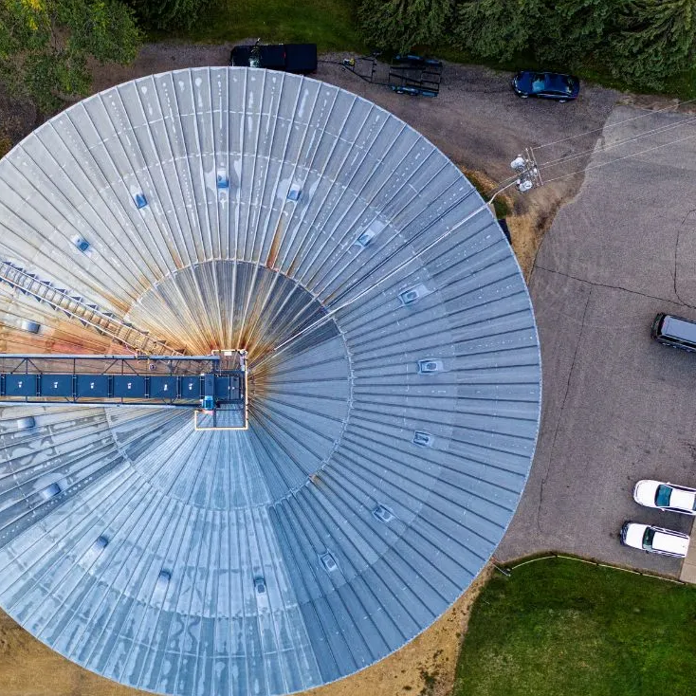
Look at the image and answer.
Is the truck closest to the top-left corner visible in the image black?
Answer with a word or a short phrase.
Yes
